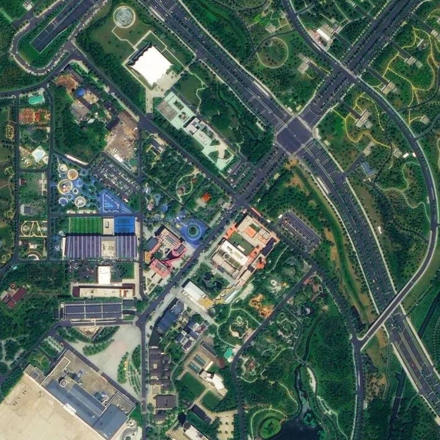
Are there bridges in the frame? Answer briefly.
Yes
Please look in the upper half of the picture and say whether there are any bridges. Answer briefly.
Yes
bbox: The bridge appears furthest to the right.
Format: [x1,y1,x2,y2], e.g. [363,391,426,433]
[358,233,438,344]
